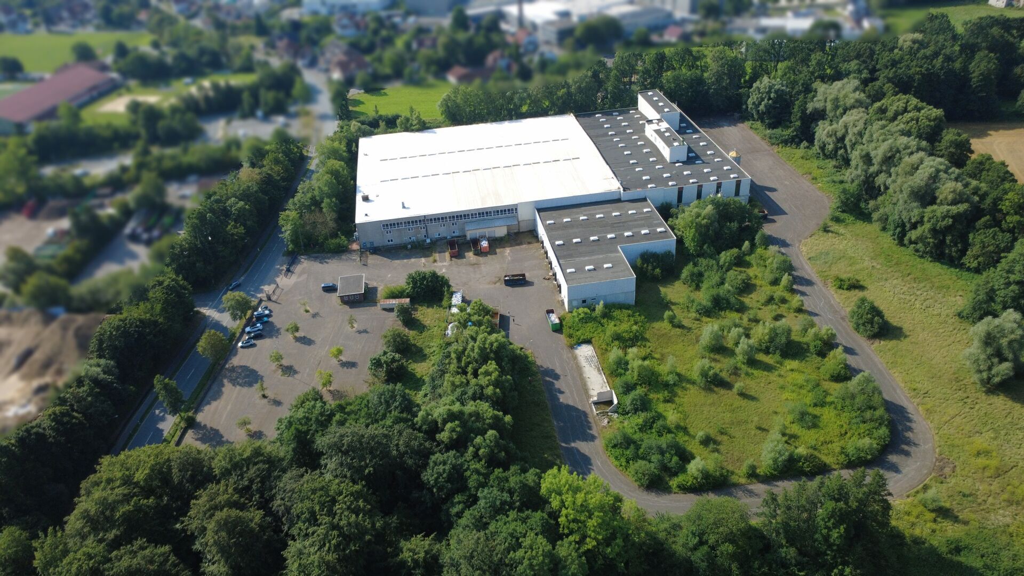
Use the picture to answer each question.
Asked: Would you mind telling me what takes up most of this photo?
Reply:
trees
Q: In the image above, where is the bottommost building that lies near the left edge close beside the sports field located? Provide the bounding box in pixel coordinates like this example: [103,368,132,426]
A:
[0,64,118,127]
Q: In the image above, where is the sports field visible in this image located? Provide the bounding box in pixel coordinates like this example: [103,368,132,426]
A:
[0,33,155,73]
